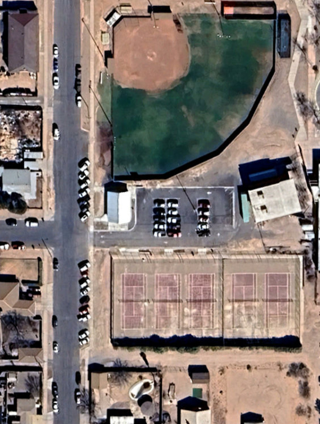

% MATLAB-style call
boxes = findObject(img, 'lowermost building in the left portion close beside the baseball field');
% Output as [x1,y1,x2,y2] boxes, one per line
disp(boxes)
[107,189,132,225]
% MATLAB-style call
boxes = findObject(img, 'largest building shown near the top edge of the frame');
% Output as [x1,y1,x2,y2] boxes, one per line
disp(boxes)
[7,6,38,73]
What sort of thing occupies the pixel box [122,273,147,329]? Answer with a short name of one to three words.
tennis court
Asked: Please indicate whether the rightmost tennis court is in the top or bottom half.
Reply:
bottom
